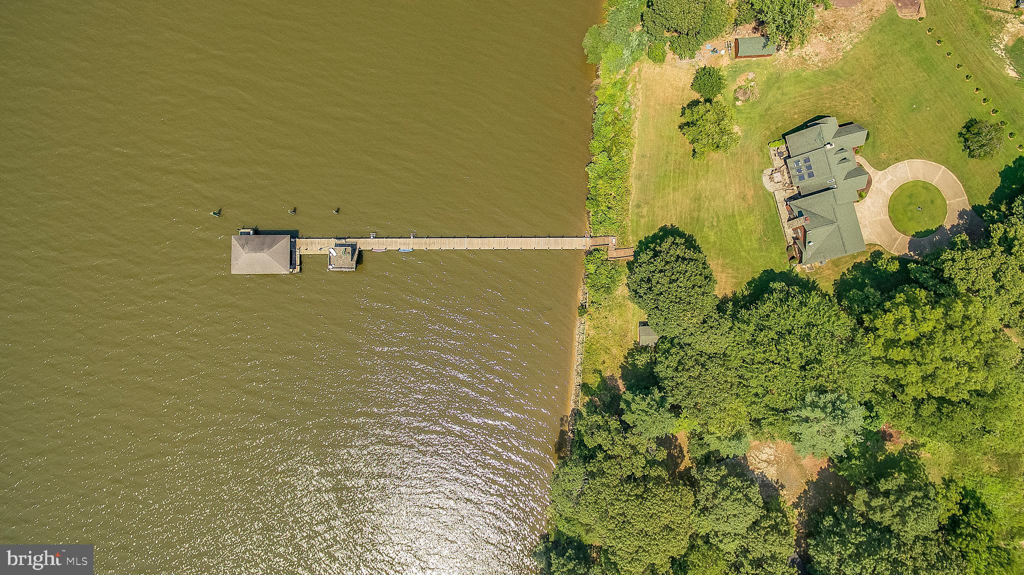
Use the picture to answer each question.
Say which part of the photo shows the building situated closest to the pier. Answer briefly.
left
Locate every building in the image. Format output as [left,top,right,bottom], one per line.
[780,117,869,266]
[735,36,776,59]
[231,228,300,274]
[637,326,661,345]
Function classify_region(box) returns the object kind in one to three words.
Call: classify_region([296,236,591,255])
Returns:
pier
